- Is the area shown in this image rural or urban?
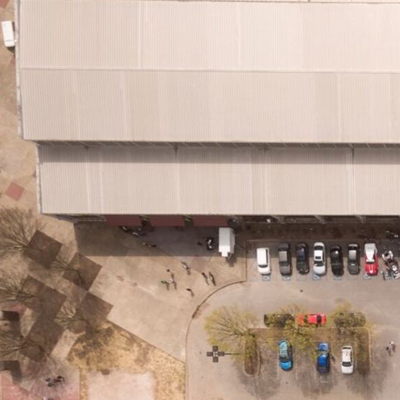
urban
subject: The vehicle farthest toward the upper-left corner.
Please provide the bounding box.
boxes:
[1,17,20,54]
